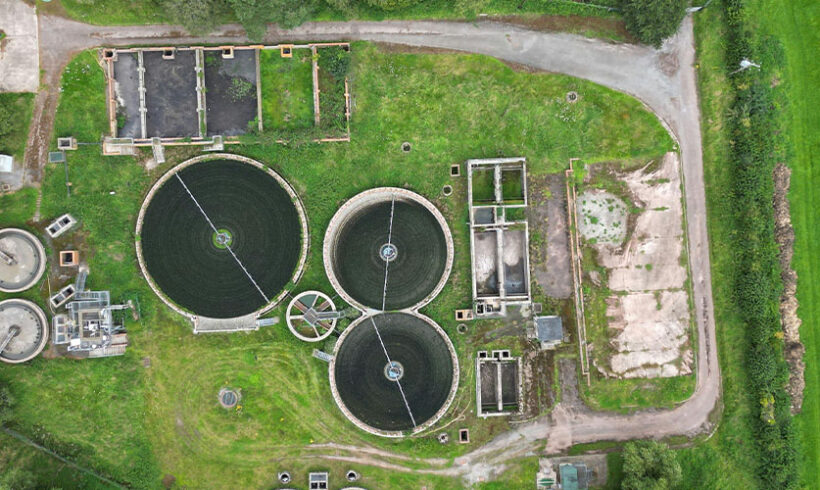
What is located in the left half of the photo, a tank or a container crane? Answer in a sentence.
Visible in the left half of the photo is a tank.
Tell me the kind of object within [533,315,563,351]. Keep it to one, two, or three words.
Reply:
shed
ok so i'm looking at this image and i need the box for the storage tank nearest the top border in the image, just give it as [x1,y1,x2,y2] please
[0,228,51,293]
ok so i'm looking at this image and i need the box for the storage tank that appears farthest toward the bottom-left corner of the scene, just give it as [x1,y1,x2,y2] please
[0,297,53,363]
